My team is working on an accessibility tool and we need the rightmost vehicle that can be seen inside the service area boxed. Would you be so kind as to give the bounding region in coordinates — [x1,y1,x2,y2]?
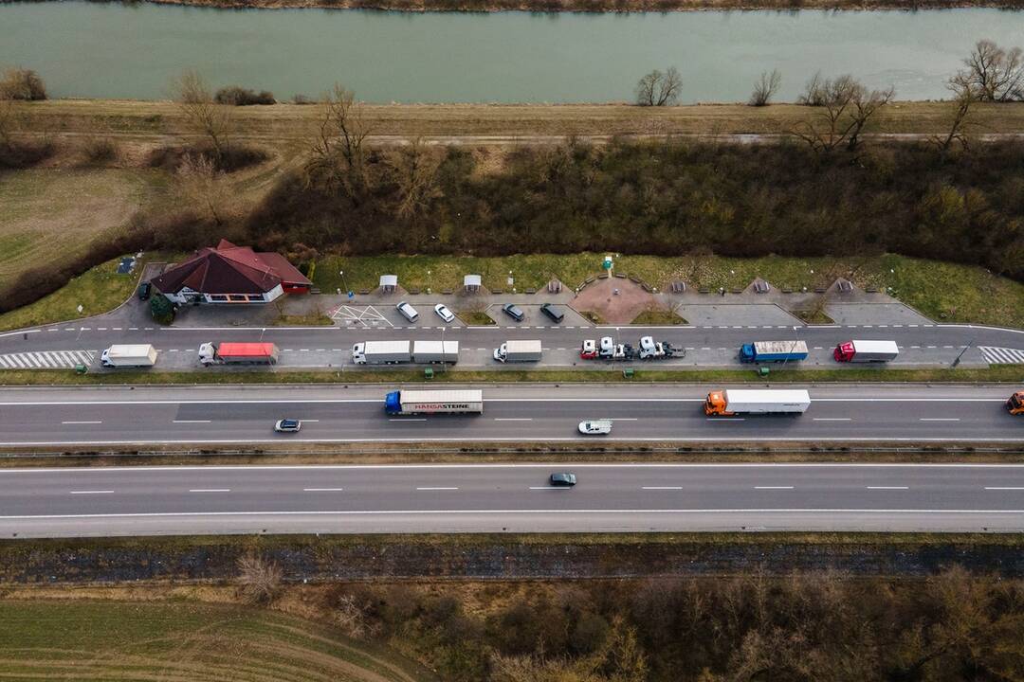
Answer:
[832,338,900,362]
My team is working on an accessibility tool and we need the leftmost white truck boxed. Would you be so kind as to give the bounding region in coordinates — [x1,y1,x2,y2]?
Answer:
[98,342,159,366]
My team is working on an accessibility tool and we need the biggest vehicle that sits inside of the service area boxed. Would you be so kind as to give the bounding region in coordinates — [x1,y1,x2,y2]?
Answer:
[350,339,457,364]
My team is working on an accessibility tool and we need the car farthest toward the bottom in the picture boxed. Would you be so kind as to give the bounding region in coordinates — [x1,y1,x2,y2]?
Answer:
[549,472,577,486]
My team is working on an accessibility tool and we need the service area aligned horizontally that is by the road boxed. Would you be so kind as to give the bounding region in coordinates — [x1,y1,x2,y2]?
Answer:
[0,261,1024,373]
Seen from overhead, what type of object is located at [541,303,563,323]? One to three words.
vehicle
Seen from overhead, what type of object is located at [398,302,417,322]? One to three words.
car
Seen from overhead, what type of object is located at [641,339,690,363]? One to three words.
truck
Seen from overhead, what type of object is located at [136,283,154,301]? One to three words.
car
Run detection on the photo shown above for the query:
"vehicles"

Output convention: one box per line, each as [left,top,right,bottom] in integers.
[541,303,563,323]
[581,342,618,363]
[398,302,417,322]
[832,338,900,362]
[705,390,811,415]
[197,342,278,365]
[549,472,577,486]
[494,341,546,363]
[641,339,690,363]
[435,303,453,322]
[384,389,482,414]
[350,339,457,364]
[579,420,615,434]
[504,303,524,322]
[273,419,300,433]
[136,283,154,301]
[602,340,641,362]
[98,342,159,366]
[1006,392,1024,415]
[738,339,808,363]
